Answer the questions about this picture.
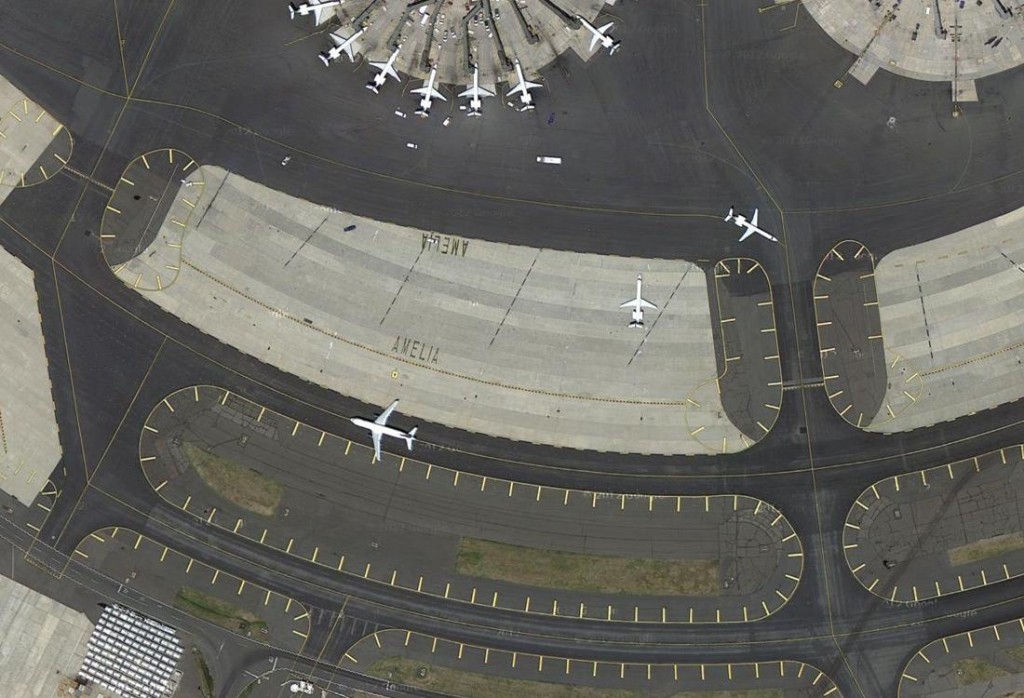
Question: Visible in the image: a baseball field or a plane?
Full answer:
Visible in the photo is a plane.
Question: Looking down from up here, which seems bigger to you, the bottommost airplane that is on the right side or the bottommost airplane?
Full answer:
The bottommost airplane that is on the right side is smaller than the bottommost airplane.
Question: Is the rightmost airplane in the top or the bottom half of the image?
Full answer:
It is in the top half that the rightmost airplane appears.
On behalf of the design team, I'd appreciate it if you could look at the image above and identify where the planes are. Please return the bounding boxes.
[577,16,622,56]
[366,46,402,94]
[410,65,446,118]
[727,209,777,243]
[351,400,419,460]
[319,29,367,66]
[457,64,495,117]
[619,274,656,328]
[506,59,543,113]
[290,0,344,27]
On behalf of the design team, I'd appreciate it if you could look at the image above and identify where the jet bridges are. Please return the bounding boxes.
[993,0,1010,16]
[510,0,539,43]
[541,0,581,28]
[934,0,947,38]
[462,0,484,70]
[354,0,380,28]
[421,0,444,70]
[388,0,438,50]
[484,0,513,70]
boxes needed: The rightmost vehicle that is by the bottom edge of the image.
[299,682,315,694]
